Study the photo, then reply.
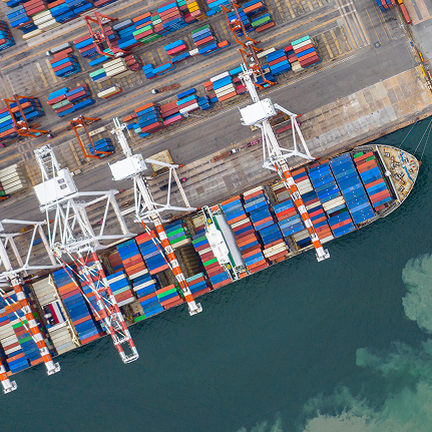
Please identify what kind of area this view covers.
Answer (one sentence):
It's a port.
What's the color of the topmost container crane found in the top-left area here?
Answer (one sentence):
In this view, the topmost container crane found in the top-left area is red.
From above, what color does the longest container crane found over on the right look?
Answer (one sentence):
The longest container crane found over on the right looks white in the image.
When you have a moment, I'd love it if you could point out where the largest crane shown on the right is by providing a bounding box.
[234,60,330,265]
